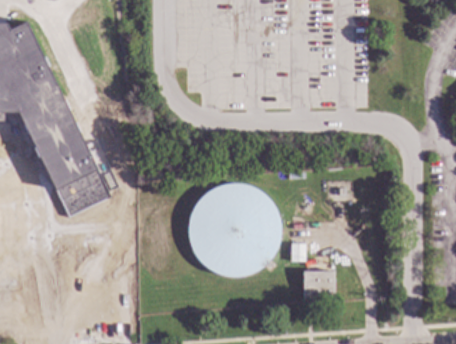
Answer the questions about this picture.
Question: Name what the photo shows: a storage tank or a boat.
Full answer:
Of the two, only a storage tank appears.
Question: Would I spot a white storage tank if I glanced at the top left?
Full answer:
No, no white storage tank appears at the top left.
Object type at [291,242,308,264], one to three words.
shed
